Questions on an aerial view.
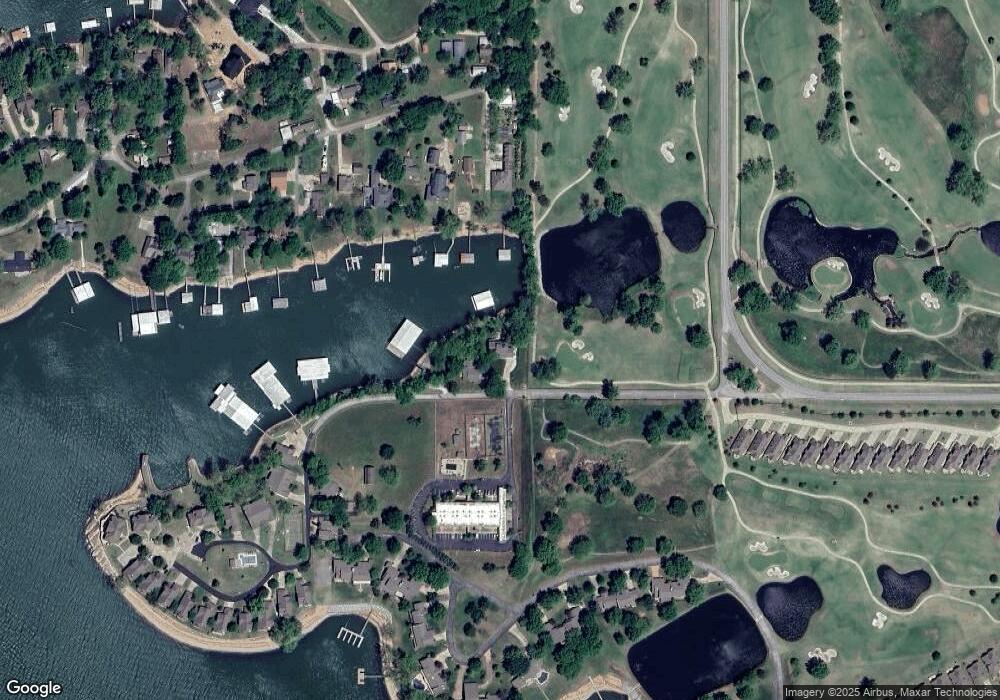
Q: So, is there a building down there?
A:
Yes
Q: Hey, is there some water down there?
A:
Yes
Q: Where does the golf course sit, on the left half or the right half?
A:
right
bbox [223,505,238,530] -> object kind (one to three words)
house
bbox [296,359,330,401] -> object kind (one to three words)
pier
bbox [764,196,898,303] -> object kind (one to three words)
pond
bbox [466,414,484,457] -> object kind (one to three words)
sports court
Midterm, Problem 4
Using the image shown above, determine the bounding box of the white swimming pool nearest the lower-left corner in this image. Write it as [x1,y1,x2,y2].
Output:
[238,553,258,566]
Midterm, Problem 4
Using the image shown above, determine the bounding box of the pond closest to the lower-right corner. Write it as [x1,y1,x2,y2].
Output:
[877,565,931,609]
